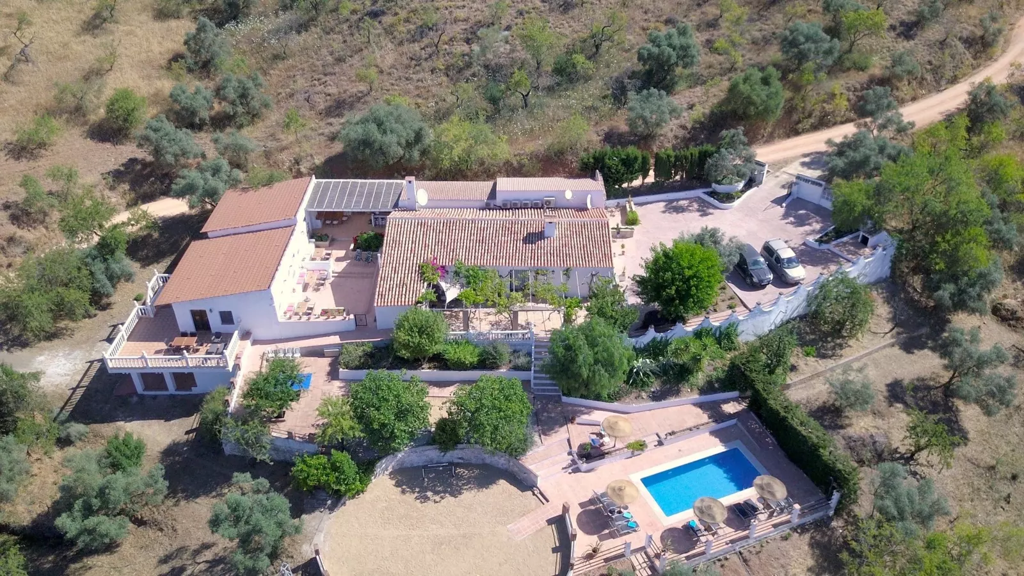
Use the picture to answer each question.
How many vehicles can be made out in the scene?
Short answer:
2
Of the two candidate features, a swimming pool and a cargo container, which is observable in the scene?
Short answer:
swimming pool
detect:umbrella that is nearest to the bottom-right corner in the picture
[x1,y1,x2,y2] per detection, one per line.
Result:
[756,474,795,512]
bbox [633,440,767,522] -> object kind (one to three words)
swimming pool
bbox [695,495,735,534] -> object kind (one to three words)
umbrella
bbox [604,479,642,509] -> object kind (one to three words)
umbrella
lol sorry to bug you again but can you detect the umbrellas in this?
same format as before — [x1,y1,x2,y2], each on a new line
[695,495,735,534]
[599,416,634,448]
[756,474,795,512]
[604,479,642,509]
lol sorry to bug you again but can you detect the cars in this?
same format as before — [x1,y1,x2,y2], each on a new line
[734,243,773,283]
[765,239,805,280]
